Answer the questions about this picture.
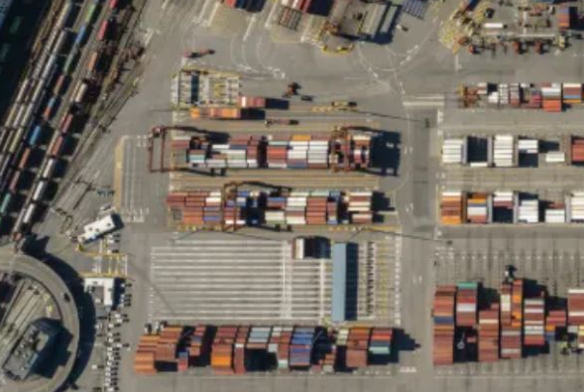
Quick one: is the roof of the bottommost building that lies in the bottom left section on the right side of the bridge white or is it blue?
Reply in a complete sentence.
From above, the roof of the bottommost building that lies in the bottom left section on the right side of the bridge appears white.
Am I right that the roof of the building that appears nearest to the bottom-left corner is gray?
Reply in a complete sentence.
Yes, gray is the color of the roof of the building that appears nearest to the bottom-left corner.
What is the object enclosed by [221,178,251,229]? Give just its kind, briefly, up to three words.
container crane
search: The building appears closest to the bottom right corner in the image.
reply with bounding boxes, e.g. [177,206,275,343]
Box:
[331,241,347,321]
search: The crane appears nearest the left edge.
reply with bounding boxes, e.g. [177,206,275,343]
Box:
[147,123,179,172]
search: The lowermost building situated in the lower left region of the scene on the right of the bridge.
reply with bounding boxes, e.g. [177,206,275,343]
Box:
[84,276,117,305]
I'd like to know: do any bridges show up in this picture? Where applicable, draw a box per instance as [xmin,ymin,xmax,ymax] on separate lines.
[0,252,81,392]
